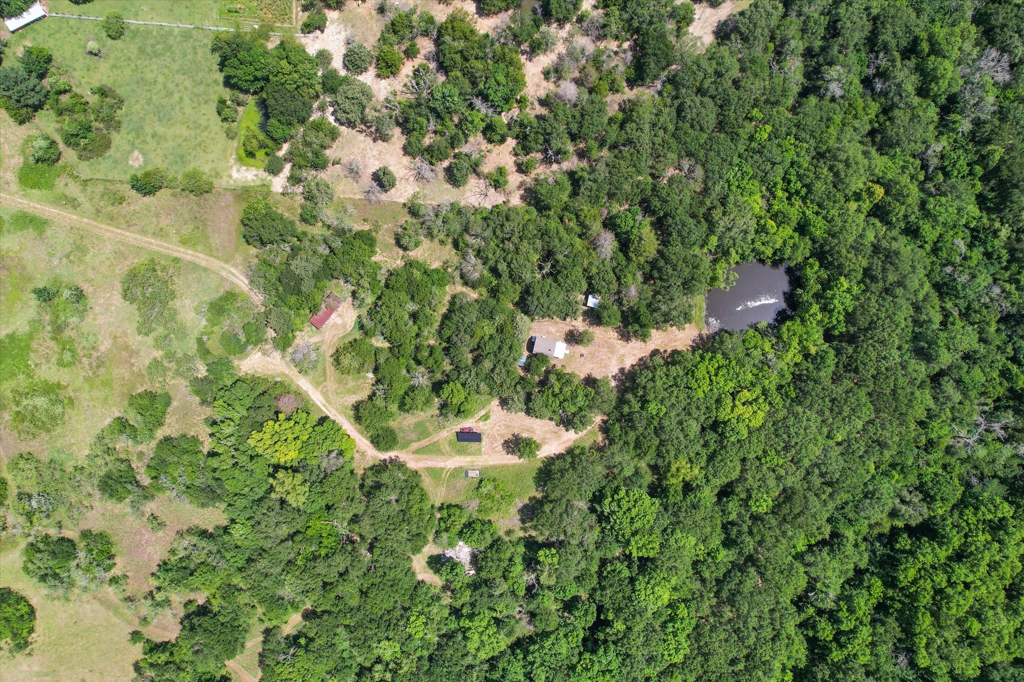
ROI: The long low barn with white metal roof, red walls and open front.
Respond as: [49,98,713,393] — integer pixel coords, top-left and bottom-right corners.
[4,1,49,35]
